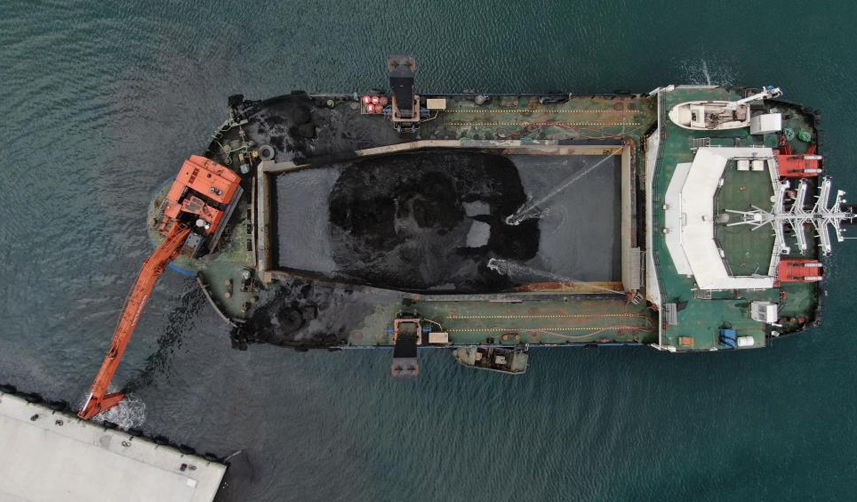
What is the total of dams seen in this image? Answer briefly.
zero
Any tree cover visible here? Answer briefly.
No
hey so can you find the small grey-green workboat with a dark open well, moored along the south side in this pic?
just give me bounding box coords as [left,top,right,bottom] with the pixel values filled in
[452,347,530,374]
